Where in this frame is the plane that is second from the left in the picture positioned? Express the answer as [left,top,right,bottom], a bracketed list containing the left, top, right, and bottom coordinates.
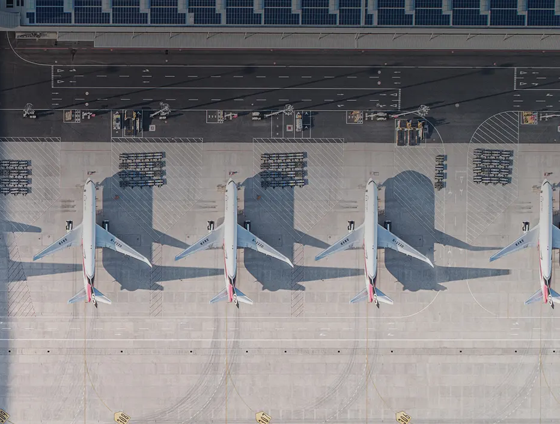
[175,179,297,307]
